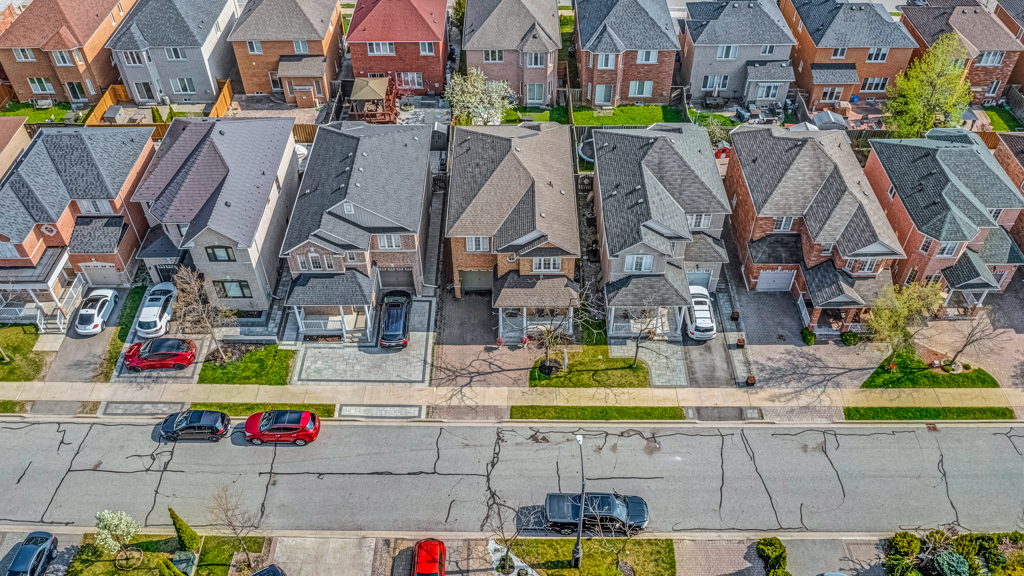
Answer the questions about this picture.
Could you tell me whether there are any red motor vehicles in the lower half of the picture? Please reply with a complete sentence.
Yes, looking in the lower half of the picture, one can make out a red motor vehicle.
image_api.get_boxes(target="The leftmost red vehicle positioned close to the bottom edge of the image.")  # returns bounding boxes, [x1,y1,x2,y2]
[413,537,450,576]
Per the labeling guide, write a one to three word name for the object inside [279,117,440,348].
house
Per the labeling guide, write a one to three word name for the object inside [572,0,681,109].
house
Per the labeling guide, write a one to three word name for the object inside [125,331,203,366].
car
